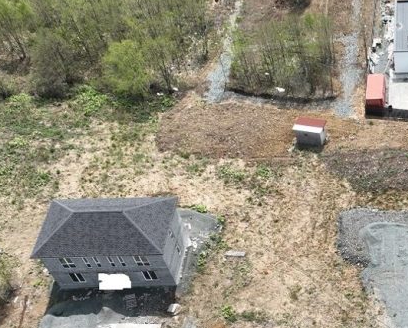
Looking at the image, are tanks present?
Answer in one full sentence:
No, this view has no tank in it.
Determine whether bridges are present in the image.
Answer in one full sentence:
No, the scene contains no bridge.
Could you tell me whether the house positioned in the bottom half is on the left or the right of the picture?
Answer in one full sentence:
You can find the house positioned in the bottom half on the left side of the picture.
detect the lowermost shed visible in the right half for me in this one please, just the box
[293,111,327,146]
